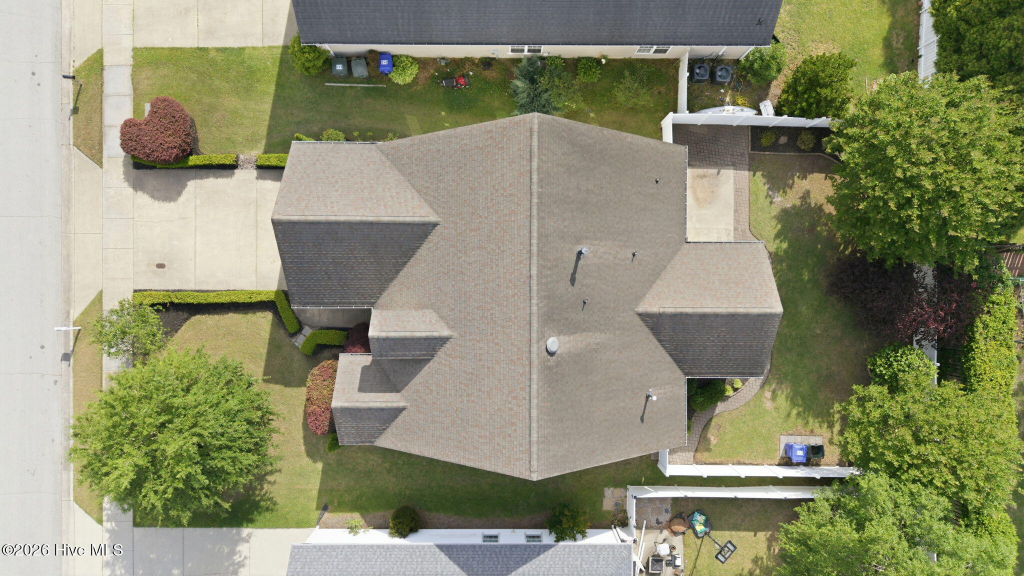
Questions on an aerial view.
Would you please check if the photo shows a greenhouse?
No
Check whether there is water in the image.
No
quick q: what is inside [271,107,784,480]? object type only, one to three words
house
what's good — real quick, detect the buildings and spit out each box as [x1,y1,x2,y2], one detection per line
[271,107,784,480]
[286,527,634,576]
[293,0,784,60]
